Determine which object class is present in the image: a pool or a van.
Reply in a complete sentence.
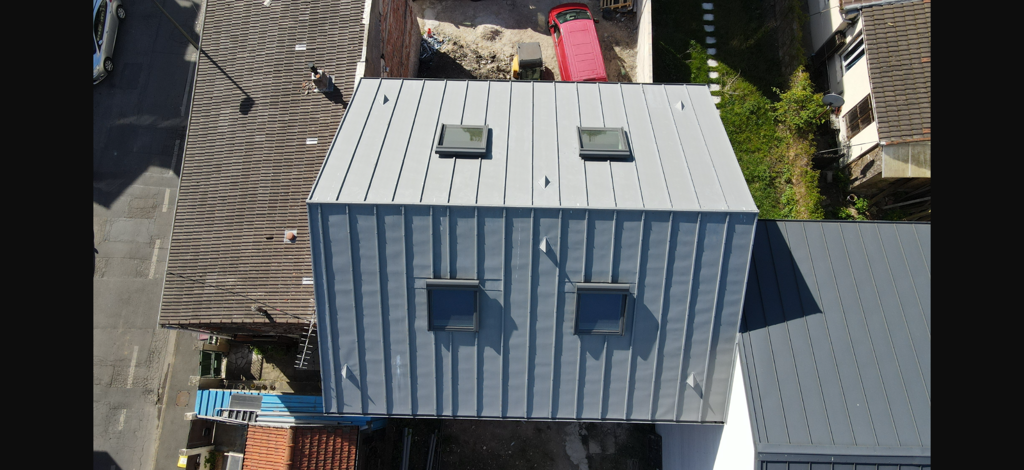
Of the two, only a van appears.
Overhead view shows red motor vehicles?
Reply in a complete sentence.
Yes, looking at the shot, I can spot a red motor vehicle.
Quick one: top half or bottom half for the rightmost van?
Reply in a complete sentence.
It is in the top half that the rightmost van appears.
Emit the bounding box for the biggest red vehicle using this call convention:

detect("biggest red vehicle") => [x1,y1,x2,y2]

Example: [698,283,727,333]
[545,4,606,80]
